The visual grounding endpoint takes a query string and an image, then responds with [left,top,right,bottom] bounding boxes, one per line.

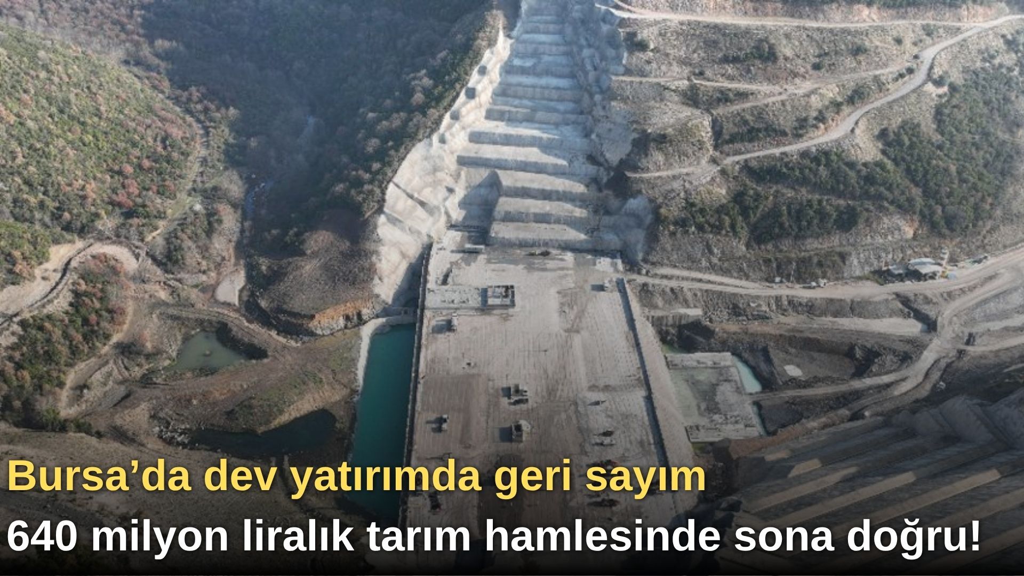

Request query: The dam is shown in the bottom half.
[397,247,712,576]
